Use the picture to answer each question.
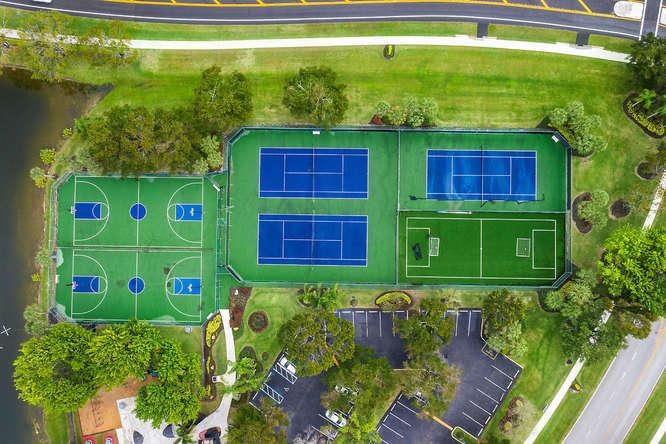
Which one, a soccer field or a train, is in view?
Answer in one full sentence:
The one in the frame is a soccer field.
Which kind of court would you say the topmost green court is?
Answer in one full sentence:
It turns out the topmost green court is a basketball court.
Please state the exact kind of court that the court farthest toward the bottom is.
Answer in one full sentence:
The court farthest toward the bottom is a basketball court.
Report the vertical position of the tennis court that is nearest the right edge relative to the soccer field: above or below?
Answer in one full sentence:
The tennis court that is nearest the right edge is found above the soccer field in the photo.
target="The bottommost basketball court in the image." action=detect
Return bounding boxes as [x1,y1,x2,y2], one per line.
[72,250,202,320]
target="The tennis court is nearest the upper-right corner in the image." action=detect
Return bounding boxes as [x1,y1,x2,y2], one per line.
[427,150,537,201]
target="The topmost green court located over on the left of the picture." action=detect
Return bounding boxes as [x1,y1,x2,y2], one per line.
[74,177,204,248]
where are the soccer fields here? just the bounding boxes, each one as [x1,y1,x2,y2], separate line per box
[397,212,566,285]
